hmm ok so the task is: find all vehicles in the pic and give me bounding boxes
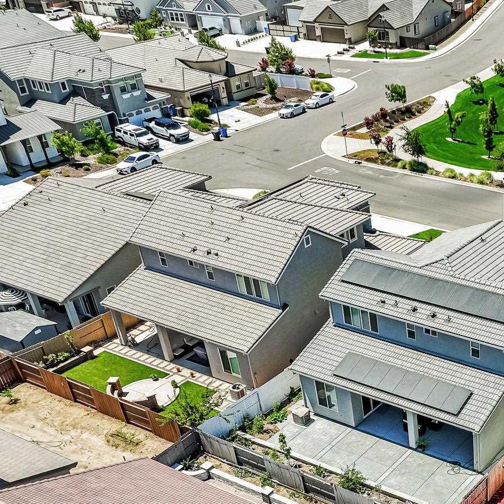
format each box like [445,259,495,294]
[44,4,71,19]
[110,149,161,174]
[146,114,193,142]
[272,97,310,118]
[304,88,337,108]
[286,57,319,72]
[114,120,161,149]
